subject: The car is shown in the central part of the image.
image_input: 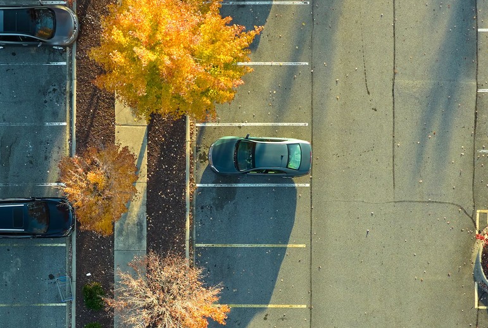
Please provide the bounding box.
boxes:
[204,131,311,181]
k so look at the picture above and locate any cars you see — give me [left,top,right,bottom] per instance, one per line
[0,0,82,50]
[204,131,311,181]
[0,191,81,244]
